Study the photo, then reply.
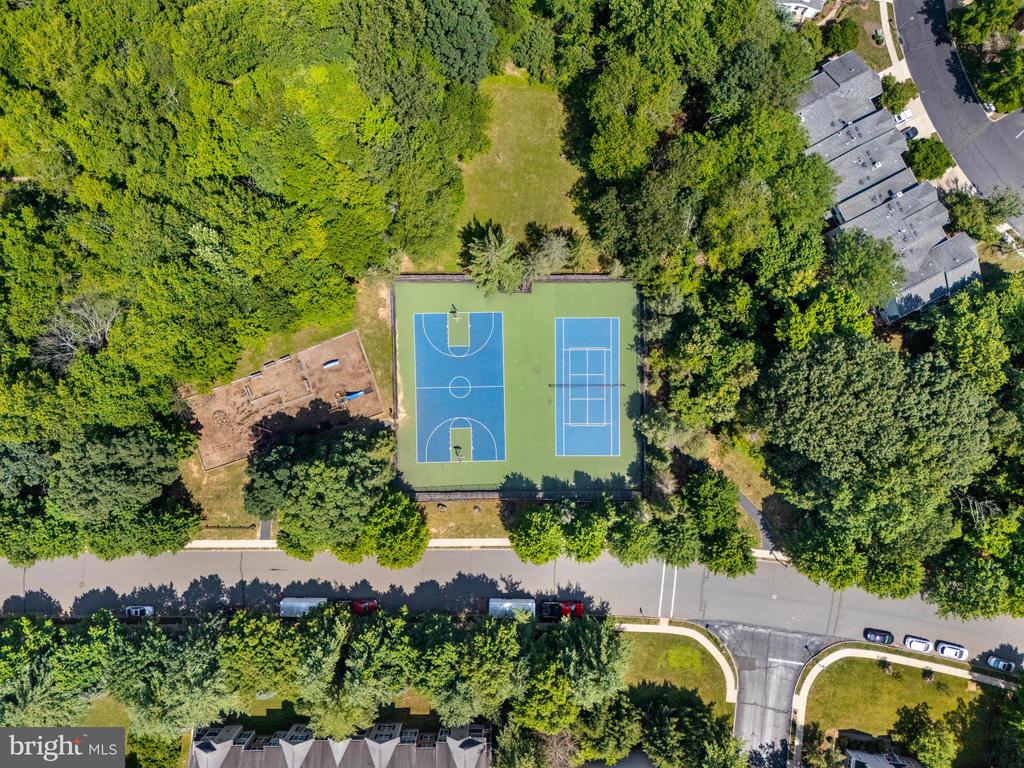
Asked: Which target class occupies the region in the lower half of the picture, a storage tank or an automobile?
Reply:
automobile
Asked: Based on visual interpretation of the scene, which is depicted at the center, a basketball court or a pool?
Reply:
basketball court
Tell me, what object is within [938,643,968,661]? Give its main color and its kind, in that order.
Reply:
white car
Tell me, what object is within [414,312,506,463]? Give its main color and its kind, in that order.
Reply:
blue basketball court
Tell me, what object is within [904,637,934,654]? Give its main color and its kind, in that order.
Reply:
white car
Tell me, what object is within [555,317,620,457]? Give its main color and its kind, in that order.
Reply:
blue tennis court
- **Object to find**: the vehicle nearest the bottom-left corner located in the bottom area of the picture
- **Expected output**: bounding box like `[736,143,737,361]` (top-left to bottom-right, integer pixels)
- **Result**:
[123,605,152,619]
